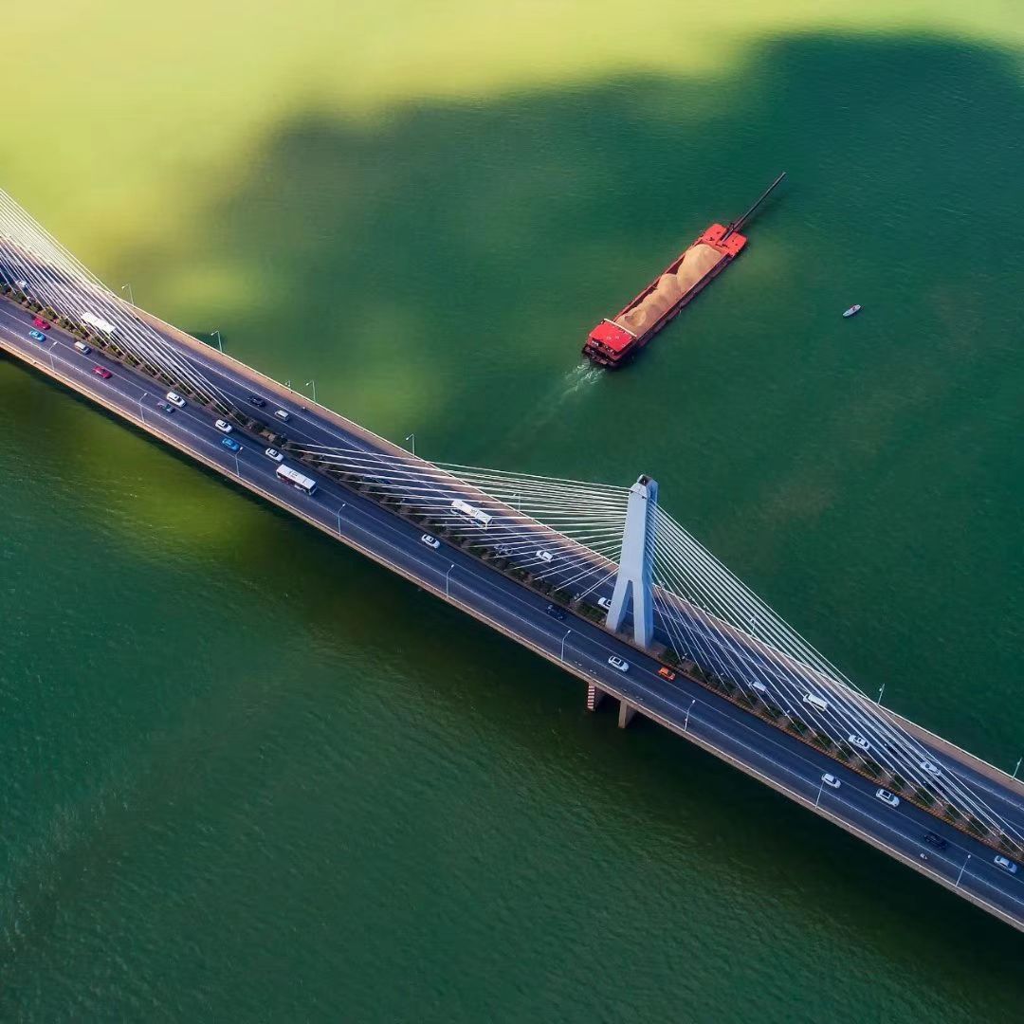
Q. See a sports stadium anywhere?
No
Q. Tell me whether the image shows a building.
No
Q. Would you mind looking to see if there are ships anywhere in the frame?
Yes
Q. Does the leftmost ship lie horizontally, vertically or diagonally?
diagonally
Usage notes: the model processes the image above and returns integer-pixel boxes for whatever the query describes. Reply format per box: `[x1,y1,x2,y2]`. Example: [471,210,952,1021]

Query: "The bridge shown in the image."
[0,181,1024,933]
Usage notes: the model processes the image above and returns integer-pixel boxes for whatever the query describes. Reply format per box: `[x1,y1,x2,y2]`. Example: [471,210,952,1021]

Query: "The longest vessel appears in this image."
[584,169,786,371]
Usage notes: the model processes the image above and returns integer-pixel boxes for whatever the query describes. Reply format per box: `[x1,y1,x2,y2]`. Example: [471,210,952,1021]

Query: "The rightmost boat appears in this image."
[841,304,860,318]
